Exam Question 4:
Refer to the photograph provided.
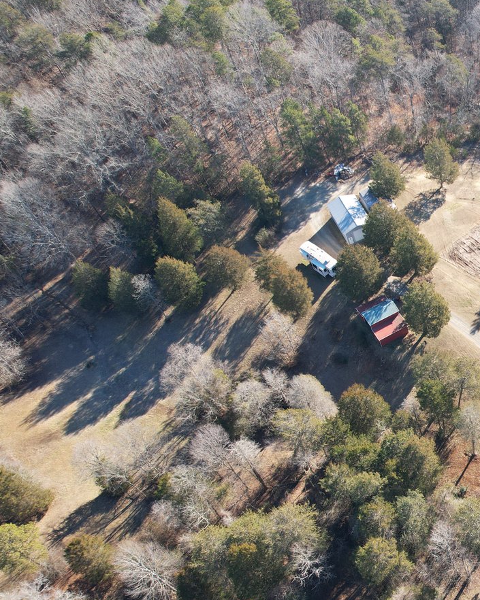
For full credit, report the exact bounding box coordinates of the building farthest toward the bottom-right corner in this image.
[357,297,411,352]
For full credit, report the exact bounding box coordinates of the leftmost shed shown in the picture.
[326,194,368,245]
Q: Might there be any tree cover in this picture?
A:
Yes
